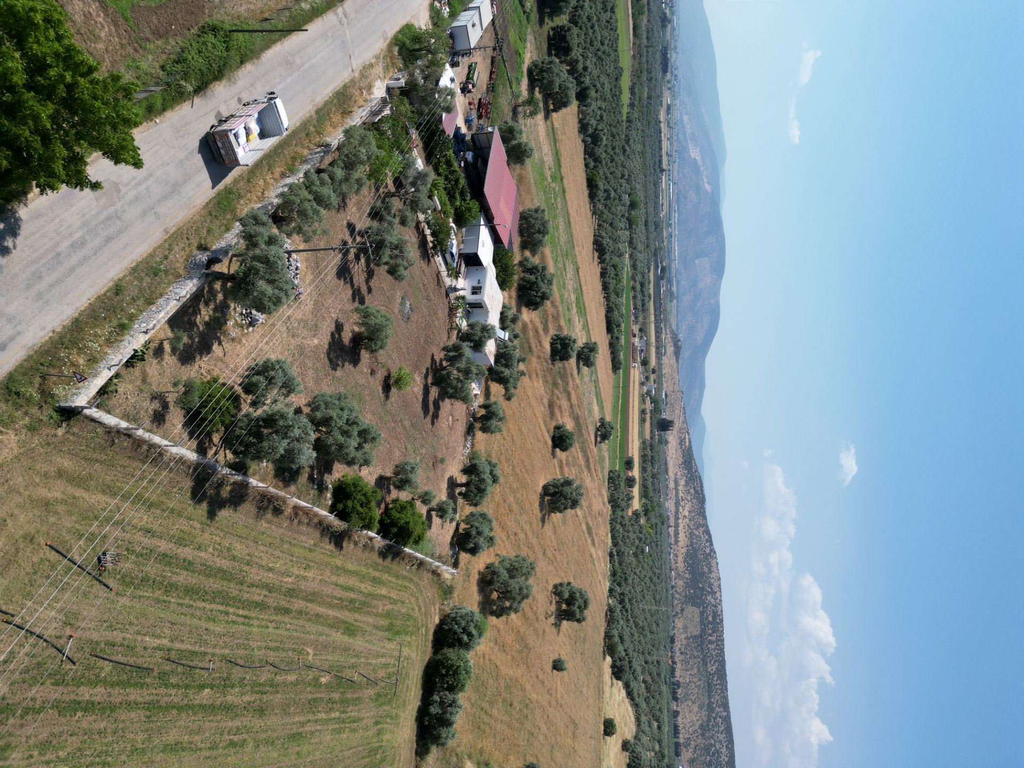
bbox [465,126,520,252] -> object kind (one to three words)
shed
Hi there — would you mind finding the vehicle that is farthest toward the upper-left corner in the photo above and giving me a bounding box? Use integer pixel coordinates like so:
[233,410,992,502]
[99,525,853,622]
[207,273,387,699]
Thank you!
[209,95,292,166]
